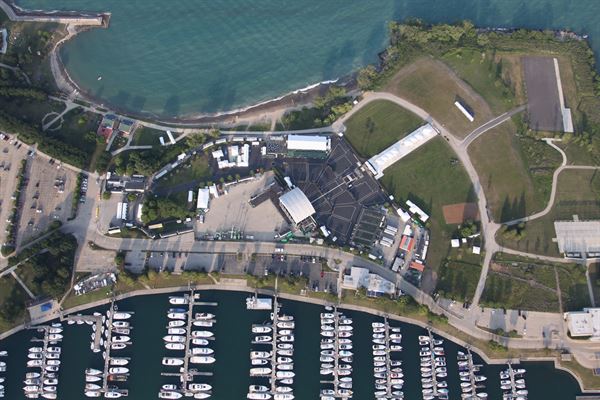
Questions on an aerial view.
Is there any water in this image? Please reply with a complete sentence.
Yes, some water is visible.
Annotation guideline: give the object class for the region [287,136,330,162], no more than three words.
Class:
building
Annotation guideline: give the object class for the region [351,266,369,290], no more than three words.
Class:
building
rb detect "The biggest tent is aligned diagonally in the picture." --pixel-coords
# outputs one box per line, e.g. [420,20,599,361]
[363,121,438,175]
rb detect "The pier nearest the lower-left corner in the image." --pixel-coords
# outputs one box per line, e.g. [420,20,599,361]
[21,322,63,395]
